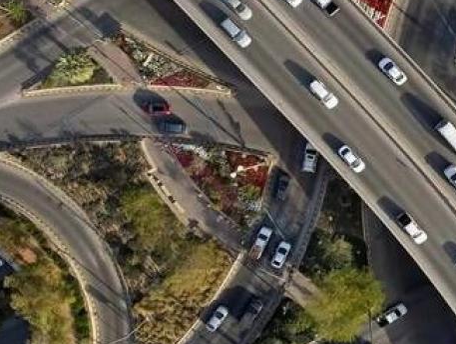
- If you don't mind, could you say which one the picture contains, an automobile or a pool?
automobile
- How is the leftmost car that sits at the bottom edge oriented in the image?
diagonally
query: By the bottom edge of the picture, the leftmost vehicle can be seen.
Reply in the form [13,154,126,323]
[206,304,228,332]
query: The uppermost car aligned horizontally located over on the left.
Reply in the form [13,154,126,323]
[143,99,172,113]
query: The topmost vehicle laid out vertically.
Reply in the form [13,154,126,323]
[302,143,317,172]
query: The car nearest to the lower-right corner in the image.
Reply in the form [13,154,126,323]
[380,304,403,325]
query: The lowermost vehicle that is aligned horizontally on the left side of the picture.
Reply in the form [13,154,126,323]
[157,120,186,133]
